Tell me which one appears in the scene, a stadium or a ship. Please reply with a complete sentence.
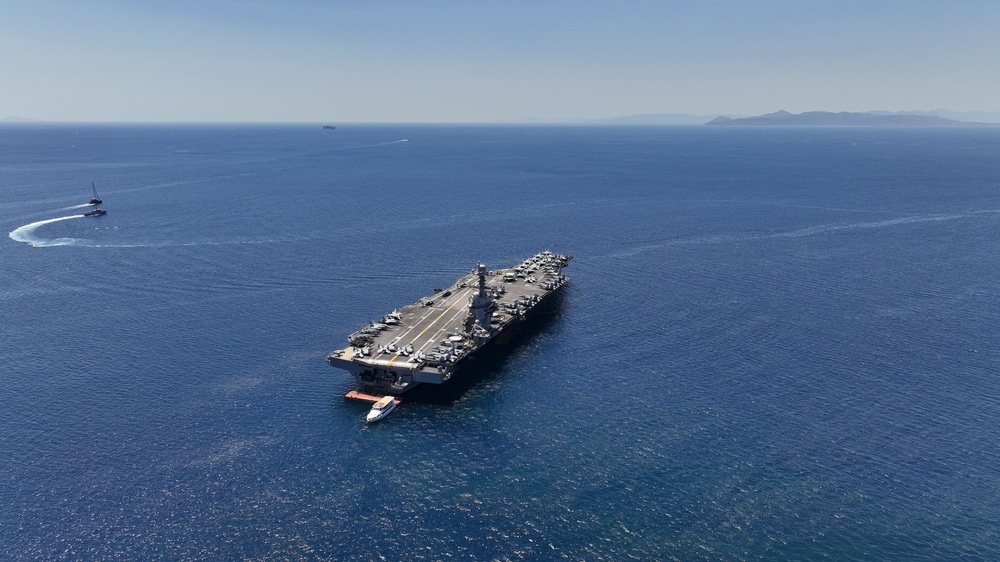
This aerial view contains a ship.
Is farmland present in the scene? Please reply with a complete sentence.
No, the scene doesn't show any farmland.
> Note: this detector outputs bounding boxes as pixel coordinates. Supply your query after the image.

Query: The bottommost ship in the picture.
[366,395,396,422]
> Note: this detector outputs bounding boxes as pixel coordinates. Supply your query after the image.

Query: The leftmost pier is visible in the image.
[344,390,401,406]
